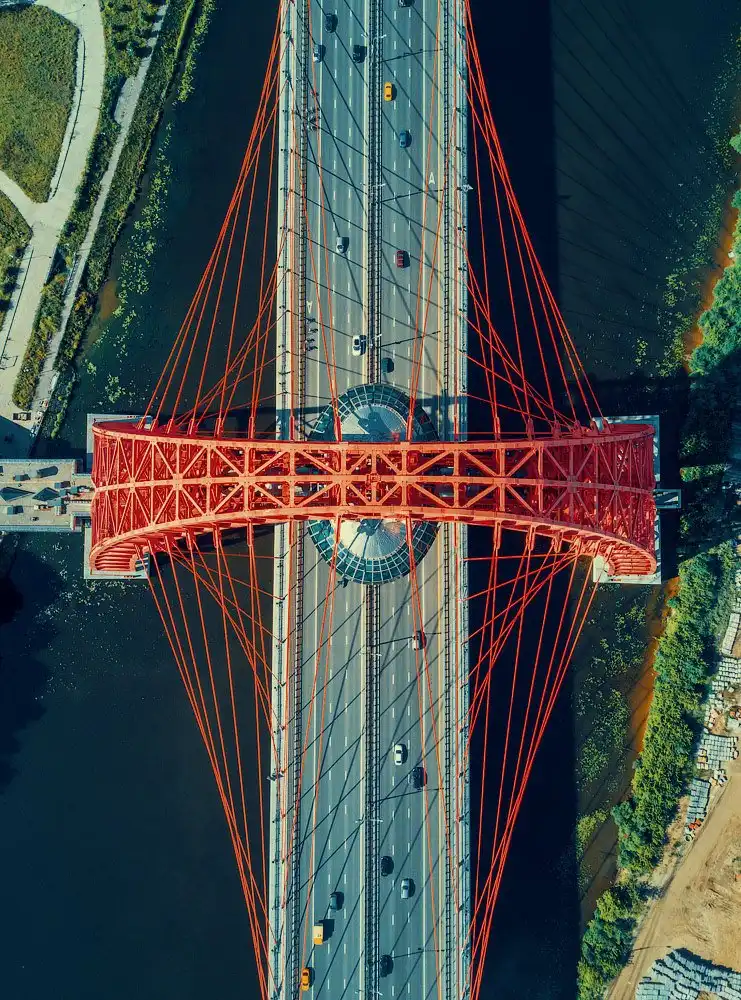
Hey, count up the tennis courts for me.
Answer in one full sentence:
There are no tennis courts in the image.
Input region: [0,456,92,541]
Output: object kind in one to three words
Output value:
building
